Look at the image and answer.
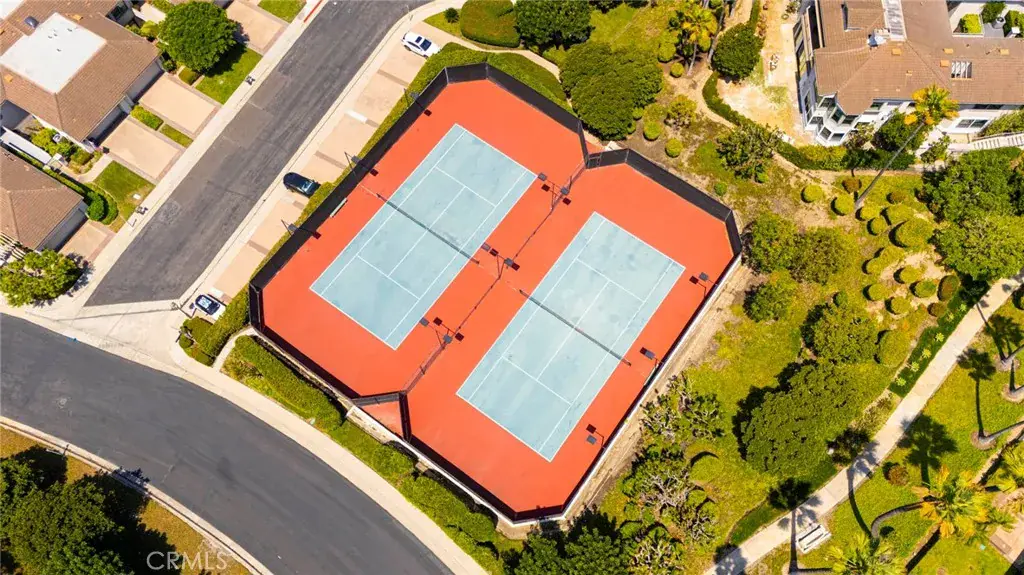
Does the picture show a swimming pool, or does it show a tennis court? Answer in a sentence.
There is a tennis court in the scene.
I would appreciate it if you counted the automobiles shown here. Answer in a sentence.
The picture shows 3 automobiles.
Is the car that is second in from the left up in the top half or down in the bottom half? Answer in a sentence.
Seen from above, the car that is second in from the left lies in the top half of the view.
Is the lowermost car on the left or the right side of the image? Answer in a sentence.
The lowermost car is on the left side of the image.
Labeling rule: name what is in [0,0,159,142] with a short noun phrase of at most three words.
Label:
house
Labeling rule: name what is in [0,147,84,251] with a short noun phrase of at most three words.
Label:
house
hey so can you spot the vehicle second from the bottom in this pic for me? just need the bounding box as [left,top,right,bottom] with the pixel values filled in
[280,170,320,197]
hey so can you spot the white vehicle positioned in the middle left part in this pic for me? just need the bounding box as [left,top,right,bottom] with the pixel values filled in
[190,289,227,318]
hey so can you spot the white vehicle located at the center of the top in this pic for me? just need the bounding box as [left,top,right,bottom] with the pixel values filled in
[399,30,441,60]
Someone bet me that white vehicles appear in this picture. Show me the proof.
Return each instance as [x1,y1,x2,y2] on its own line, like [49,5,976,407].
[399,30,441,60]
[190,289,227,318]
